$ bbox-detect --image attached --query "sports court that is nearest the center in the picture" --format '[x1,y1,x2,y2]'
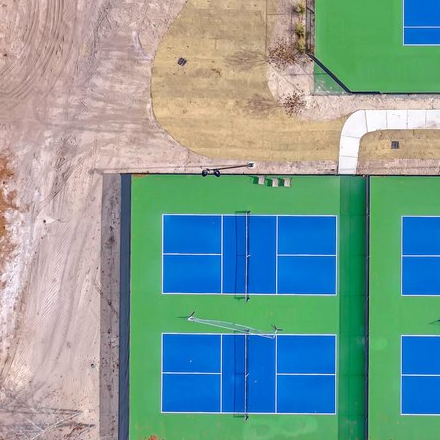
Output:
[130,175,364,314]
